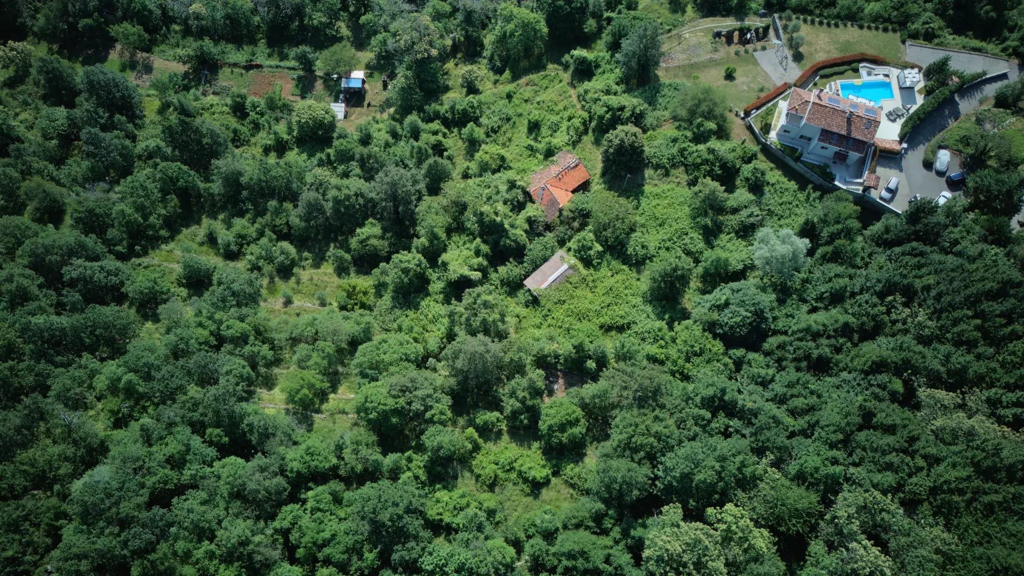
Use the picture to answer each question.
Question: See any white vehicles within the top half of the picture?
Yes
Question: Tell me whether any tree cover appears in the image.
Yes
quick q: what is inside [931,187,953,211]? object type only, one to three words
car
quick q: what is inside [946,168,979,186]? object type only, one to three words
car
